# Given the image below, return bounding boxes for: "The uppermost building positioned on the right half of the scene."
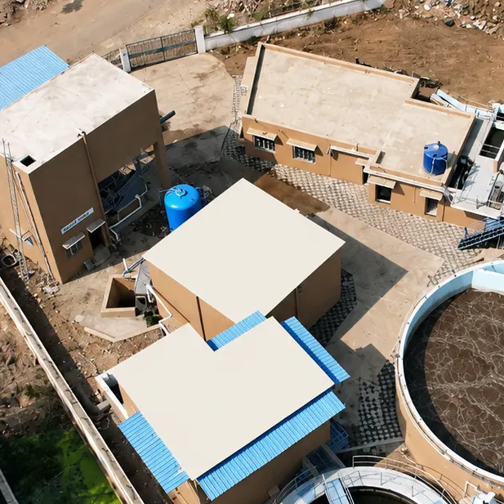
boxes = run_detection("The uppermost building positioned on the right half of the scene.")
[240,40,471,226]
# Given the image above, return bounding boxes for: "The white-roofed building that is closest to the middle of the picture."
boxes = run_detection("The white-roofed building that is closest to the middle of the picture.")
[144,179,346,348]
